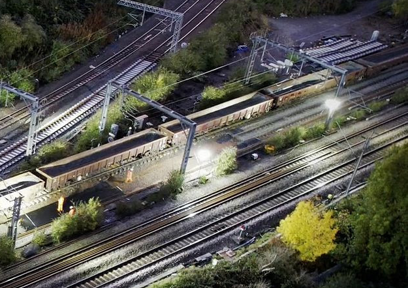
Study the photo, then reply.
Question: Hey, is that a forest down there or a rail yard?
rail yard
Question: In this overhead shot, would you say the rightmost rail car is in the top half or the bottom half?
top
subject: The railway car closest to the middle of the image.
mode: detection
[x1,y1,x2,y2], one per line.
[156,90,273,149]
